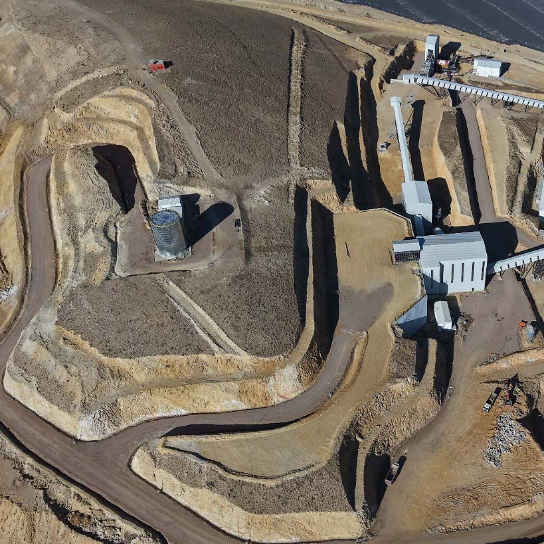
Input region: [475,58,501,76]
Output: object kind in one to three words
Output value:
shed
